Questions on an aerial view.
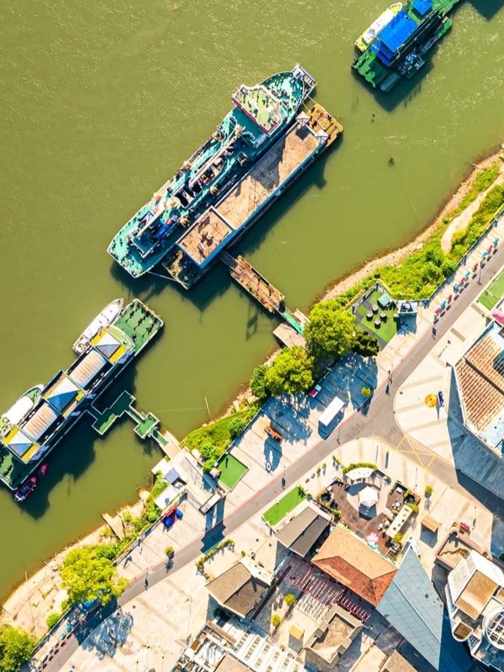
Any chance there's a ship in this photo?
Yes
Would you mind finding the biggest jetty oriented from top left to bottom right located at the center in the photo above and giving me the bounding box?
[231,256,286,313]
